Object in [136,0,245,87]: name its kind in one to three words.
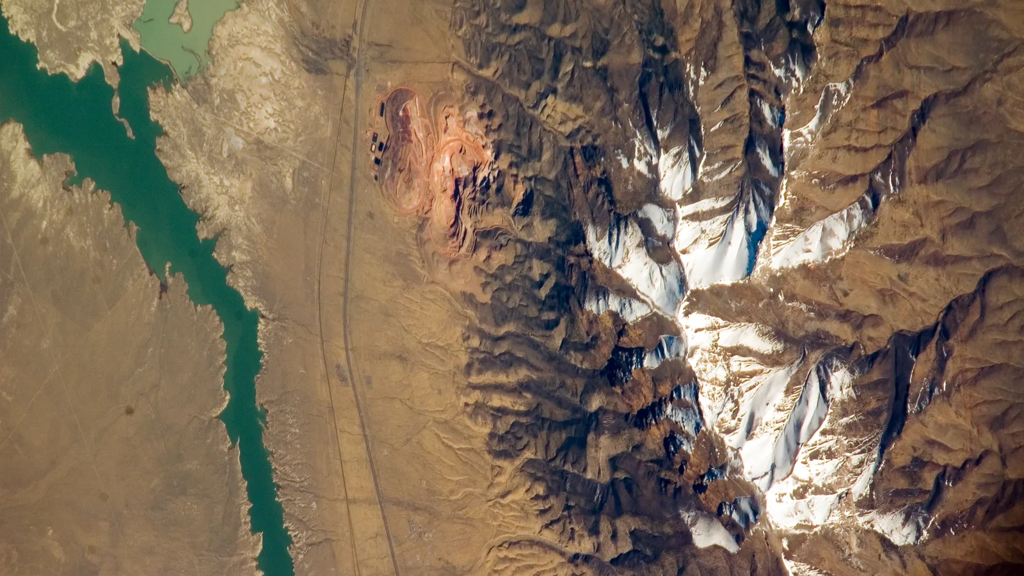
pond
